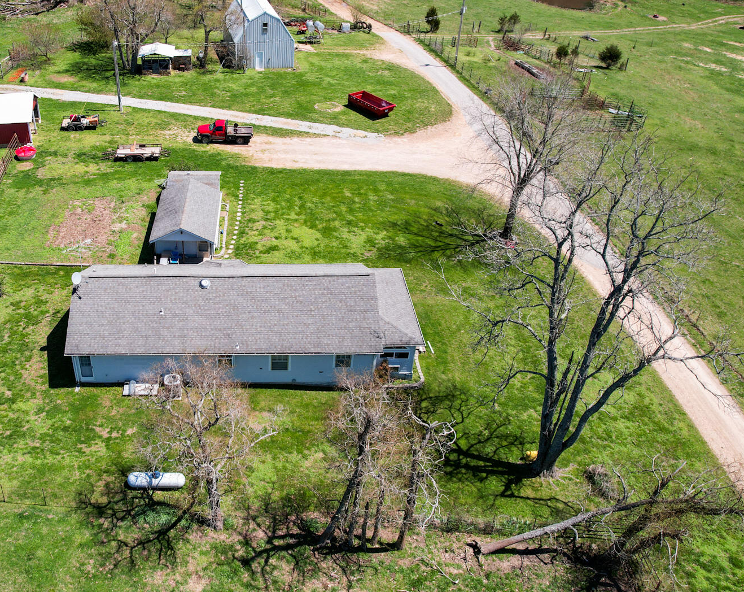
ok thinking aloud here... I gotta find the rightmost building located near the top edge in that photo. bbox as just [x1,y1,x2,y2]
[220,0,314,71]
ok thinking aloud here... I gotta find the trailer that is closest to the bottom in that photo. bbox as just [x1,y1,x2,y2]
[99,143,177,163]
